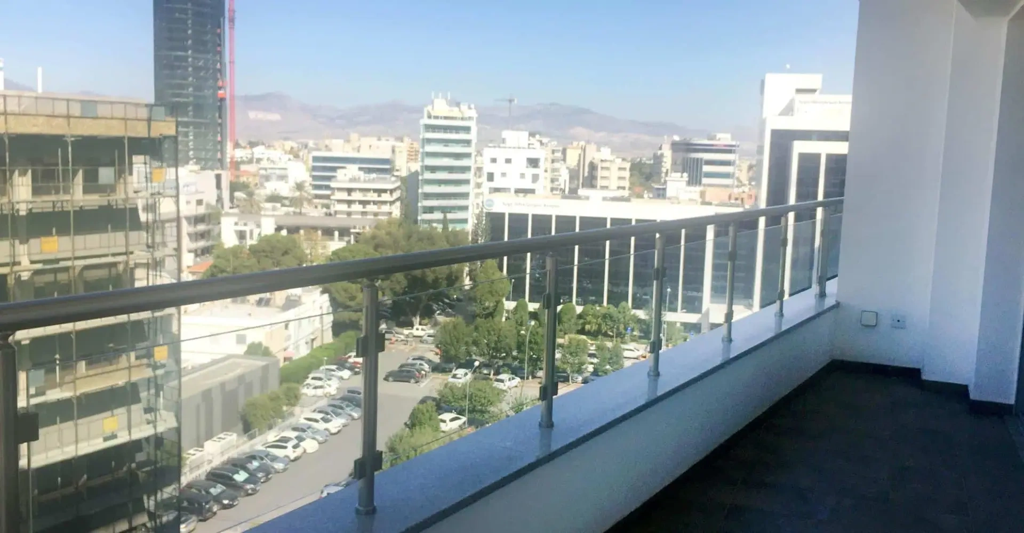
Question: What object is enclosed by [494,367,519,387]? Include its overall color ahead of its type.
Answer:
white car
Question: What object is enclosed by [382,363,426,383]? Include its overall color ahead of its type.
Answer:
gray car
